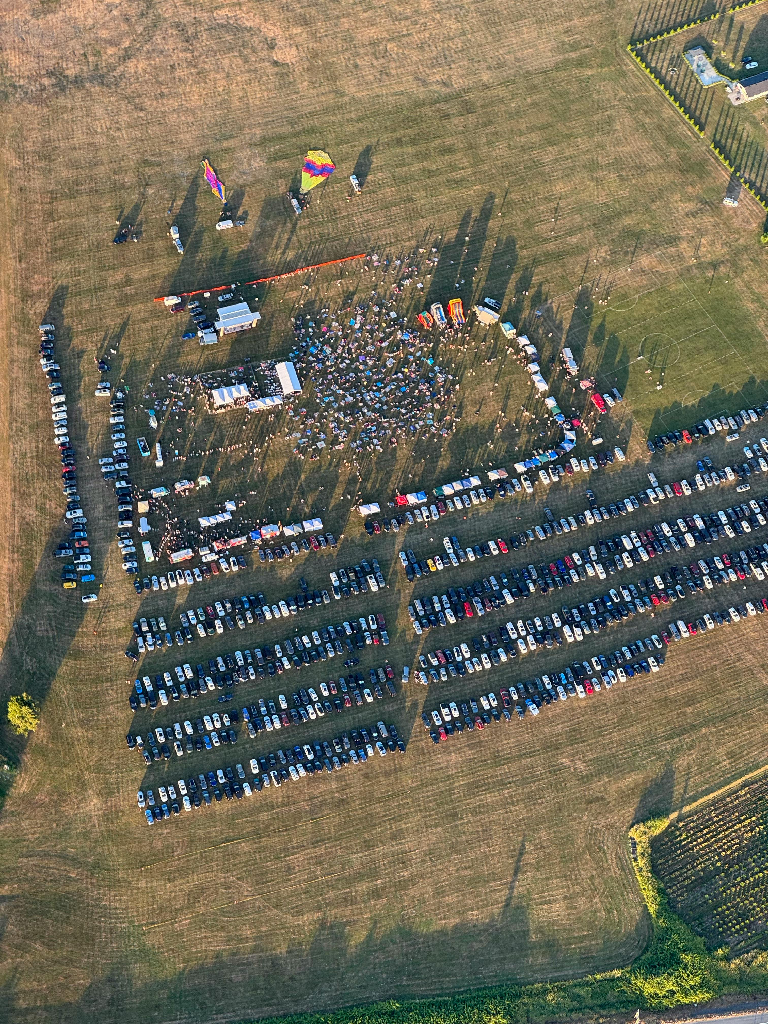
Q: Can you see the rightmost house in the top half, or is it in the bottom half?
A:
top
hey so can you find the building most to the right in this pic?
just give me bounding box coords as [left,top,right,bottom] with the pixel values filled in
[736,70,768,103]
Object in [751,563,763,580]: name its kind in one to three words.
vehicle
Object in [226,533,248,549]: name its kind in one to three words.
vehicle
